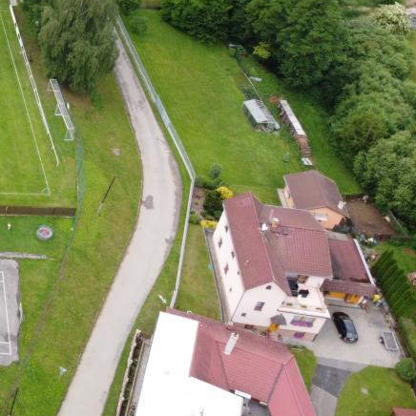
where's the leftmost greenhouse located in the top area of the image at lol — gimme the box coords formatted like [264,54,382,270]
[236,95,279,131]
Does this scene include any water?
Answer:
No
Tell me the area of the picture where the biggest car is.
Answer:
bottom right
